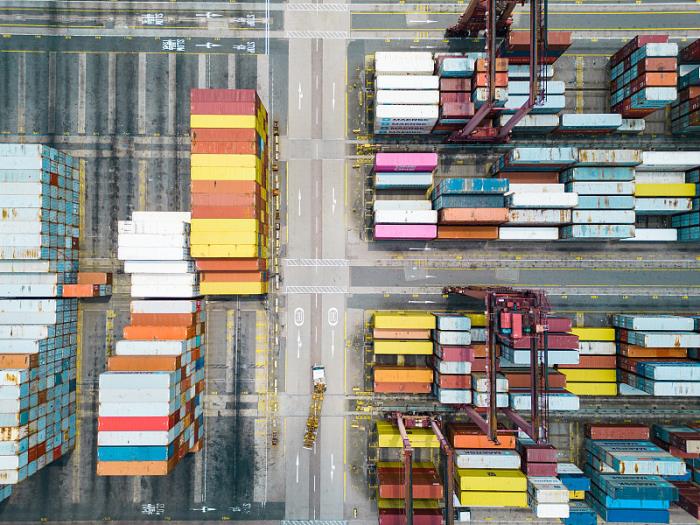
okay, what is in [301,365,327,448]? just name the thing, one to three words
truck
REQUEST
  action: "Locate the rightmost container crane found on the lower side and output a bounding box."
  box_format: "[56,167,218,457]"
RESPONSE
[440,283,550,445]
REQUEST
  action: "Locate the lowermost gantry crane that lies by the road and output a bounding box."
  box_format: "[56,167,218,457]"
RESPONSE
[373,410,453,525]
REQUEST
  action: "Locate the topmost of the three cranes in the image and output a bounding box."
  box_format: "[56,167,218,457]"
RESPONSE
[441,0,552,146]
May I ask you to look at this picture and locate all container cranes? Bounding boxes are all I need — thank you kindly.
[440,283,550,445]
[373,410,453,525]
[441,0,552,146]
